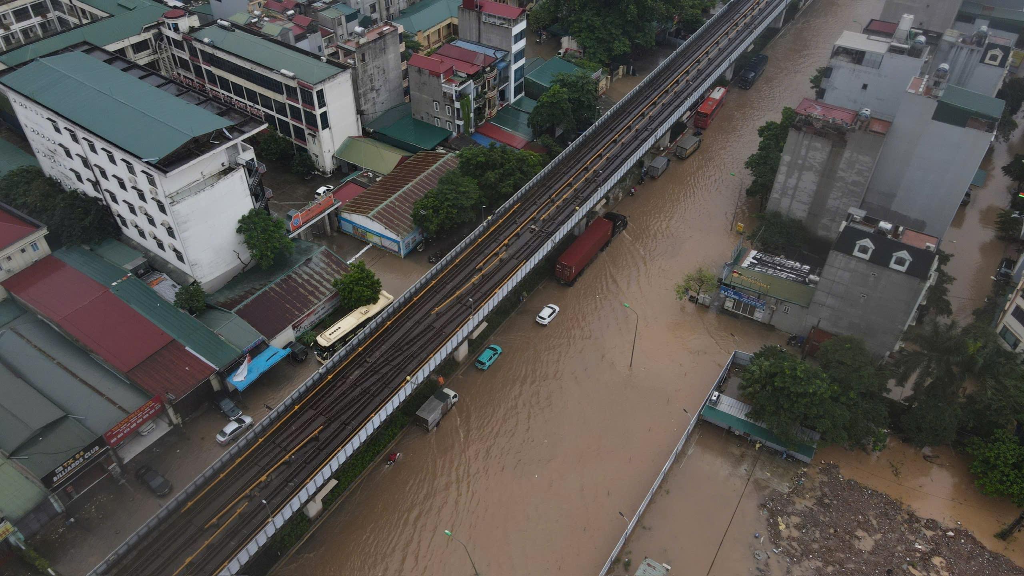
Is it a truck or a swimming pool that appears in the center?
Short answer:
truck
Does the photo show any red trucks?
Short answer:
Yes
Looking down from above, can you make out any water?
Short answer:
Yes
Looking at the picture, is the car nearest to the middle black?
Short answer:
No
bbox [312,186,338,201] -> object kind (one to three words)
car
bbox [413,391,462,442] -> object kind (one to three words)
truck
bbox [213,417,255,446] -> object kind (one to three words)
car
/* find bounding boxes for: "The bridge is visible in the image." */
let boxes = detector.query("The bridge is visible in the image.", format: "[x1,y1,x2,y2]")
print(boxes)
[85,0,796,576]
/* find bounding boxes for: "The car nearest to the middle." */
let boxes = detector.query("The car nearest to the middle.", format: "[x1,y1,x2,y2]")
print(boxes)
[533,306,561,328]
